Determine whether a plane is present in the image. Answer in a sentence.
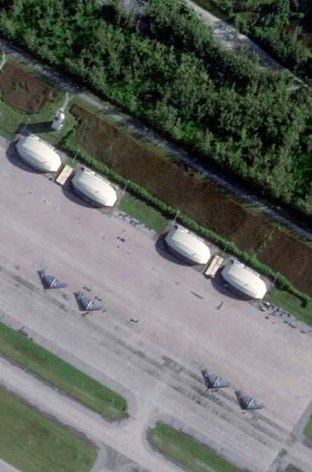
Yes, the picture does show a plane.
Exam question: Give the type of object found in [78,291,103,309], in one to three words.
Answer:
airplane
